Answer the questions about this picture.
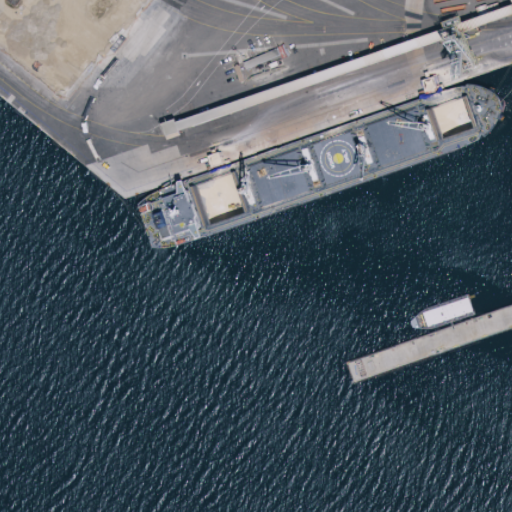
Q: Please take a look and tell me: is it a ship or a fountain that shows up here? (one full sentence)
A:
Visible in the photo is a ship.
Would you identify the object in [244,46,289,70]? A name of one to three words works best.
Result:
building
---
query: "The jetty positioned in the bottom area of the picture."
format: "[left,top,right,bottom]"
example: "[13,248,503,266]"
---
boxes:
[347,304,512,382]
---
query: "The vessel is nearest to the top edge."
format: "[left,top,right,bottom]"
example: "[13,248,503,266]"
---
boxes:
[138,84,502,248]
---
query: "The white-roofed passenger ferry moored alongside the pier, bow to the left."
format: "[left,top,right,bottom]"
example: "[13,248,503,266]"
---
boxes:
[410,294,476,328]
